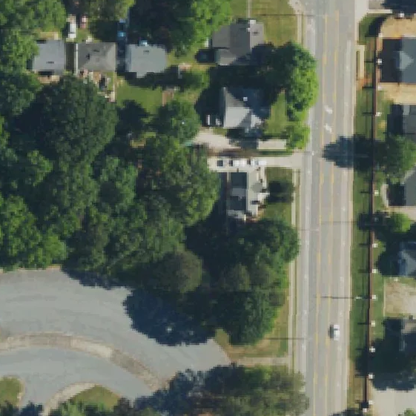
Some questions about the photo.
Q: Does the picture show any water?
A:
No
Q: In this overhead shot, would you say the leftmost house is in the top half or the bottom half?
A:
top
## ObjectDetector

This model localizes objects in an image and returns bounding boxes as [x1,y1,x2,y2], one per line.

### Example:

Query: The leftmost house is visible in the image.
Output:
[36,41,65,71]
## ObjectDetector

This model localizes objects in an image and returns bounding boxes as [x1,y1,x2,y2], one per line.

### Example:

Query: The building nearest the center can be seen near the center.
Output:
[228,171,273,210]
